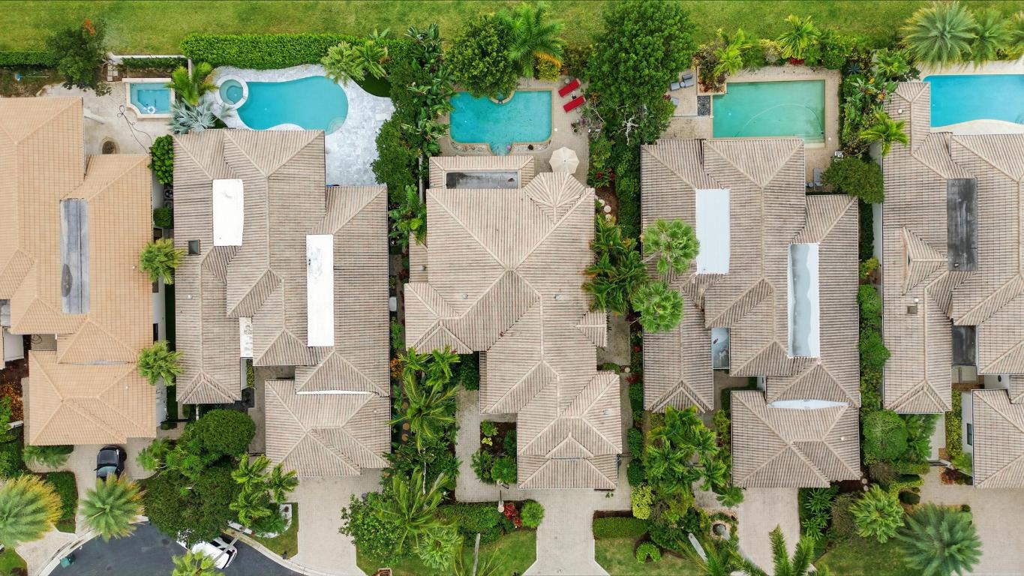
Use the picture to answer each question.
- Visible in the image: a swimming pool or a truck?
swimming pool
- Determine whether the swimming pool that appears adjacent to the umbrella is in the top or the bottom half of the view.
top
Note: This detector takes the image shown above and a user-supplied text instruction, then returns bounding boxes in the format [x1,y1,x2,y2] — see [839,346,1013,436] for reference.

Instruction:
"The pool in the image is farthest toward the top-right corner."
[919,69,1024,132]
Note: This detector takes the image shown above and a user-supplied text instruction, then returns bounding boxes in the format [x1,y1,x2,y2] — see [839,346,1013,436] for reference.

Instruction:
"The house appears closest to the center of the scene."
[403,155,623,489]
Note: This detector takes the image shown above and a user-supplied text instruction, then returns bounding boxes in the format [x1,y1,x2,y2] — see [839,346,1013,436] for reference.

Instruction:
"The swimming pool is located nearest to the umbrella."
[447,87,555,156]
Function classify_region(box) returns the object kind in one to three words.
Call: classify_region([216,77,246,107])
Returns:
swimming pool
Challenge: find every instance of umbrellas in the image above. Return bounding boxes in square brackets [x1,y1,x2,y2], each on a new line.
[549,146,578,173]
